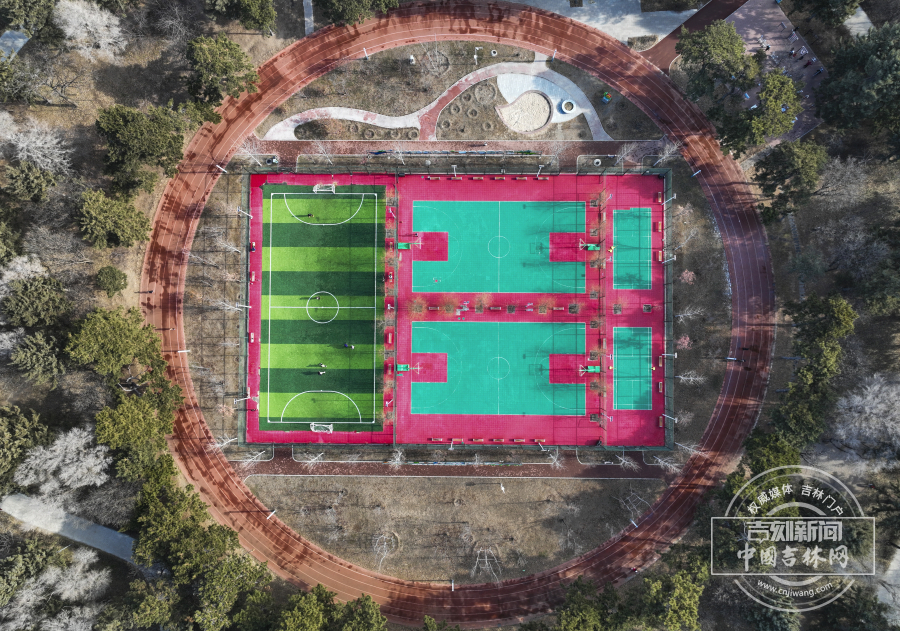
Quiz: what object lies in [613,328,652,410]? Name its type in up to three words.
sports court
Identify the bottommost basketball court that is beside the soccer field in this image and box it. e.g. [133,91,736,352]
[410,322,586,416]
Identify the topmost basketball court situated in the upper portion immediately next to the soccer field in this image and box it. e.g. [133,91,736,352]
[412,200,587,294]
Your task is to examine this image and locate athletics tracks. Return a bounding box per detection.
[142,0,773,627]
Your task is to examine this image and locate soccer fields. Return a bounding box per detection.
[259,185,386,431]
